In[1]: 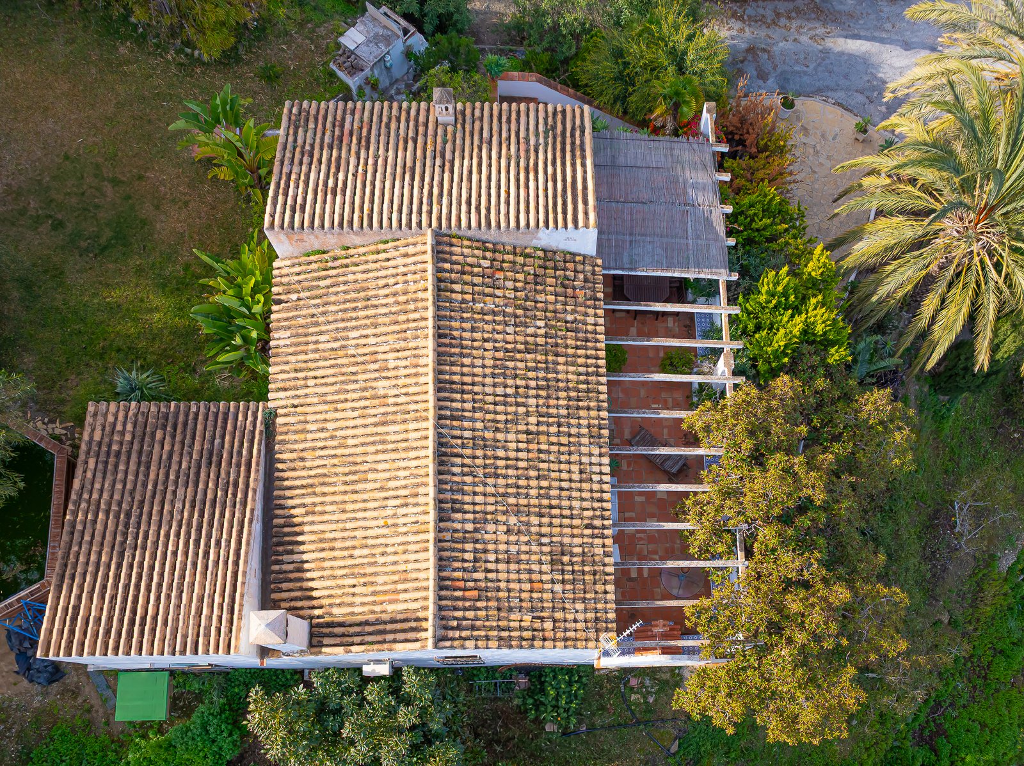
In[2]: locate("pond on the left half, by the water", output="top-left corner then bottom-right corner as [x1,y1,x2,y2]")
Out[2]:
[0,419,78,623]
